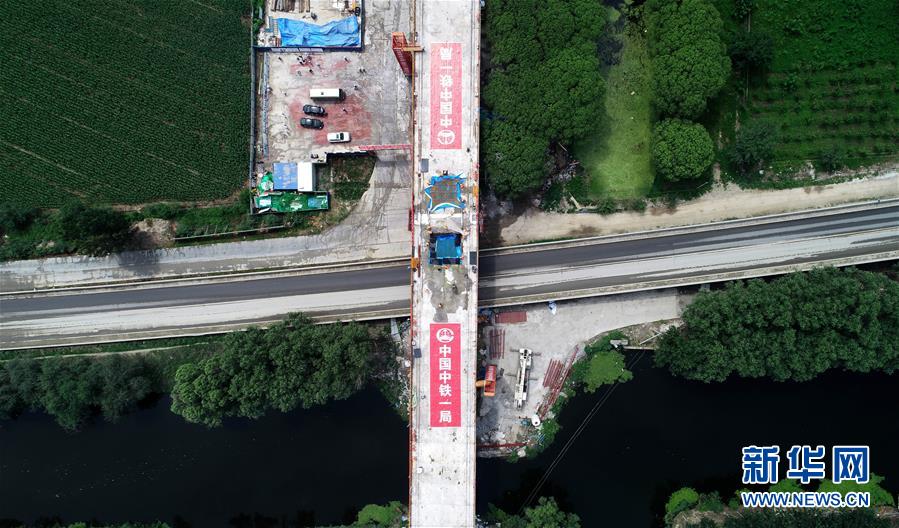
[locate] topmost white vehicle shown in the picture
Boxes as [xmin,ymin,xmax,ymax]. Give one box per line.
[309,88,345,102]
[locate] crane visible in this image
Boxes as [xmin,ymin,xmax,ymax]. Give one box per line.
[506,351,541,410]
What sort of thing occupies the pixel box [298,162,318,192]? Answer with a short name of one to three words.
shed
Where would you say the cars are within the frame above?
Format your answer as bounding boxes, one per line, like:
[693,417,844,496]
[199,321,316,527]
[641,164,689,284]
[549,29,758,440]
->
[327,132,350,142]
[300,119,324,129]
[303,105,326,116]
